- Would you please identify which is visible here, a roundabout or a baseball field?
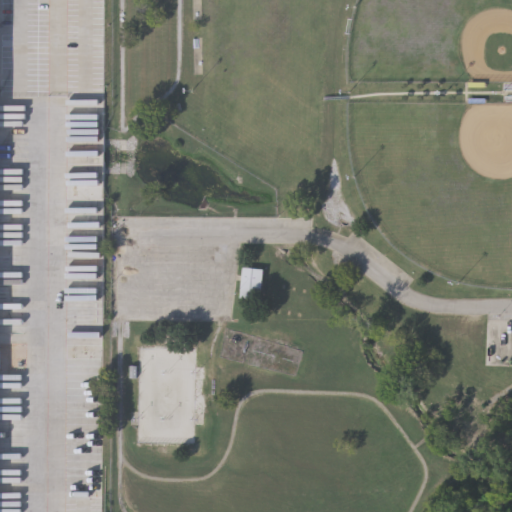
baseball field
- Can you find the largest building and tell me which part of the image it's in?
center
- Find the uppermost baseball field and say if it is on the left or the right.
right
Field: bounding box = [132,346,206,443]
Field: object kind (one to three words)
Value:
sports court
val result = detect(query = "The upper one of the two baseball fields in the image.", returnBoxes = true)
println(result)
[348,0,512,82]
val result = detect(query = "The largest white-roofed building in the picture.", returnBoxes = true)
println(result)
[239,266,264,298]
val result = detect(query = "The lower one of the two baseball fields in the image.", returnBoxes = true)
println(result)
[348,102,512,288]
